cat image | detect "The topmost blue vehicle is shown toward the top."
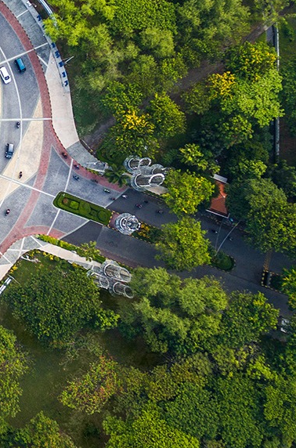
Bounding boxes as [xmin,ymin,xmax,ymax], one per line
[14,54,28,74]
